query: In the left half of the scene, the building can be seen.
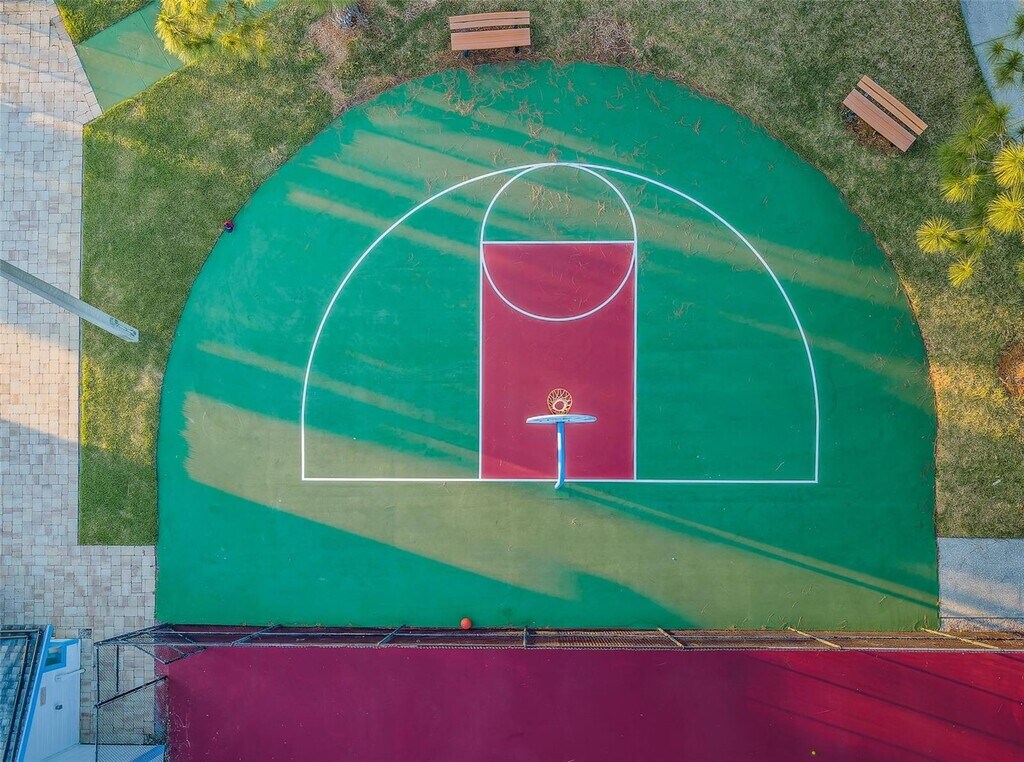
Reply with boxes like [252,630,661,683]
[0,623,163,762]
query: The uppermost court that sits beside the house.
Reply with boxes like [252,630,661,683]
[155,60,941,627]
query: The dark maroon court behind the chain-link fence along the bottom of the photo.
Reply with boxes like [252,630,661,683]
[153,628,1024,762]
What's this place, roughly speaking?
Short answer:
sports ground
